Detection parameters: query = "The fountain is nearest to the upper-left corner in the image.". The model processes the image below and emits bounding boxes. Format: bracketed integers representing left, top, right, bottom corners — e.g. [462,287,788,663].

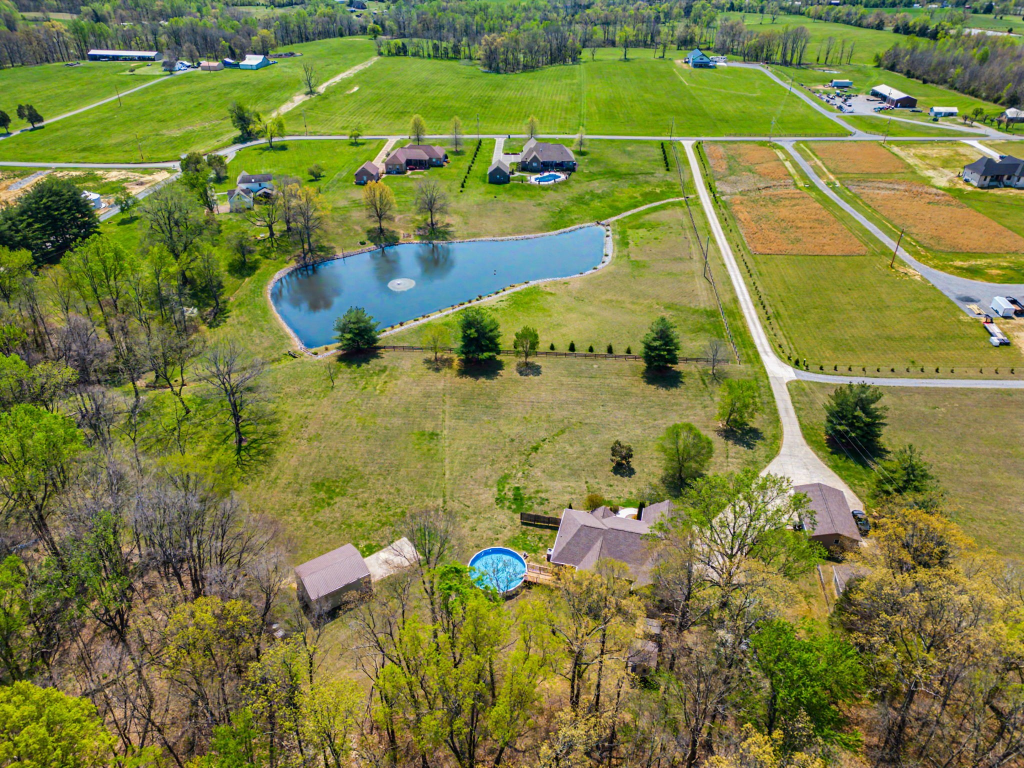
[387,278,416,291]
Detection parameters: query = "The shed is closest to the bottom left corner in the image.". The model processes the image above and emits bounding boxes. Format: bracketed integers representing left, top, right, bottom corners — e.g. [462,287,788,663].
[296,544,372,615]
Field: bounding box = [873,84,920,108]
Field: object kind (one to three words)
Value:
barn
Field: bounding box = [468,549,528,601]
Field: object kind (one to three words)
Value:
swimming pool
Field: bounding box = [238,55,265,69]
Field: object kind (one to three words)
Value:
building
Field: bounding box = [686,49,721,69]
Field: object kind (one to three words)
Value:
house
